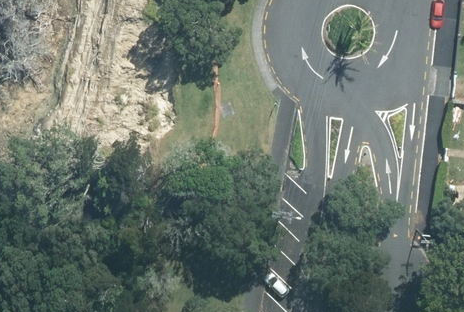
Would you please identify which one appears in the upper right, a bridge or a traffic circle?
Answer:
traffic circle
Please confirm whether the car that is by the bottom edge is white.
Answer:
Yes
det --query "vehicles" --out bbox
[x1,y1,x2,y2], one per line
[430,0,445,29]
[266,274,291,298]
